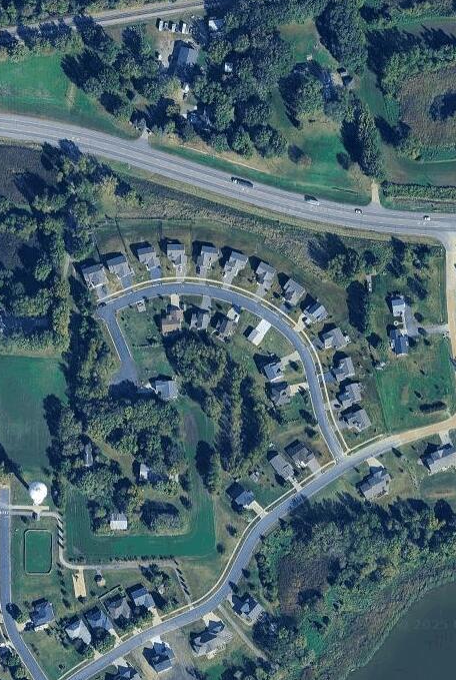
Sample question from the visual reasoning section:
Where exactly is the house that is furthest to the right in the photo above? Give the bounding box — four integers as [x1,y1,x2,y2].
[424,446,456,473]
